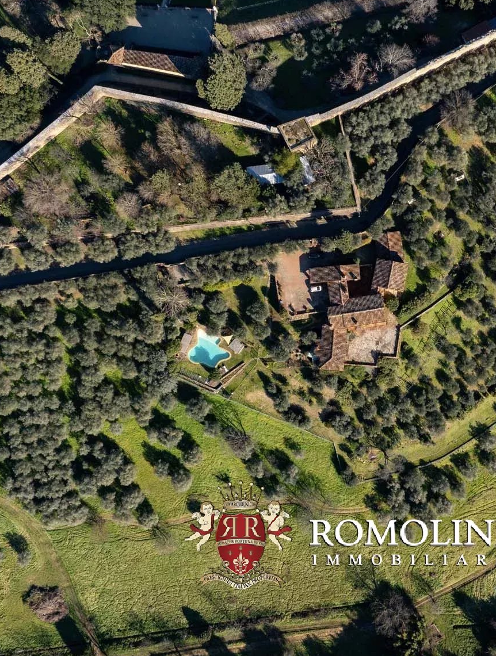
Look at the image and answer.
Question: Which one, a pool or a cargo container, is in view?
pool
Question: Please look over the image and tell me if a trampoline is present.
No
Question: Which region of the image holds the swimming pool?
center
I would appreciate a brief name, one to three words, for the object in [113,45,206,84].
house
